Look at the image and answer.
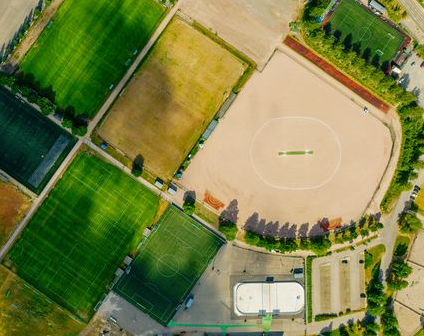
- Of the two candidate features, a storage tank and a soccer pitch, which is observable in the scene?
soccer pitch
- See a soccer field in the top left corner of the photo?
Yes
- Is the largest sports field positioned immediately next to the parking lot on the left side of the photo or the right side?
right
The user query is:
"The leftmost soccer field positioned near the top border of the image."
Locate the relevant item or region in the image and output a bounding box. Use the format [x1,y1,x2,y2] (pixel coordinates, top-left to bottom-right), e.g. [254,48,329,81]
[20,0,165,119]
